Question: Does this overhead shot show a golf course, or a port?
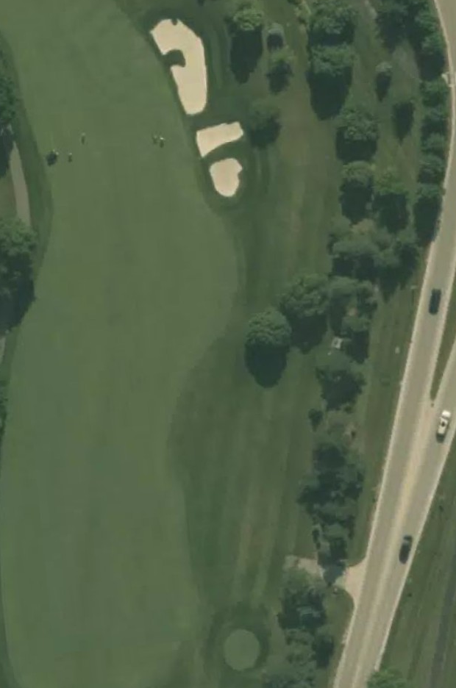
golf course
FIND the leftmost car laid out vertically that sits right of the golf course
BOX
[400,536,412,562]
